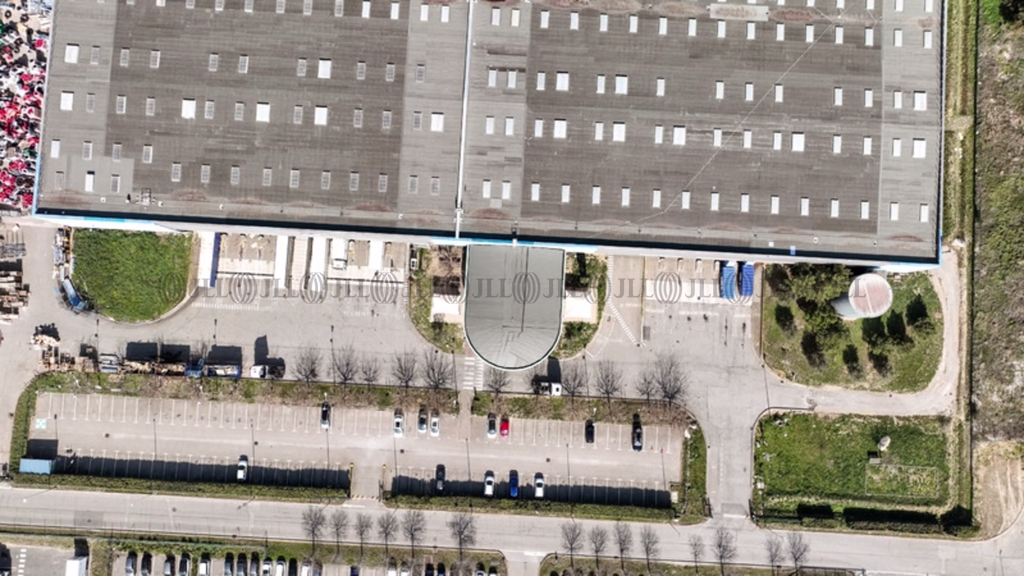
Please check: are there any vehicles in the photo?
Yes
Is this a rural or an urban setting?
urban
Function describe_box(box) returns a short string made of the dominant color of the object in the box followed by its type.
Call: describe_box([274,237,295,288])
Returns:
white trailer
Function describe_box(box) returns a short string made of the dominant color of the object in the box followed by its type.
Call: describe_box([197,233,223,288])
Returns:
white trailer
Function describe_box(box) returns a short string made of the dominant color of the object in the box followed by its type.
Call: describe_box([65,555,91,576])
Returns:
white truck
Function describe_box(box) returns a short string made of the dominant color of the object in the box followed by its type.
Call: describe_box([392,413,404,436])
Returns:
white vehicle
